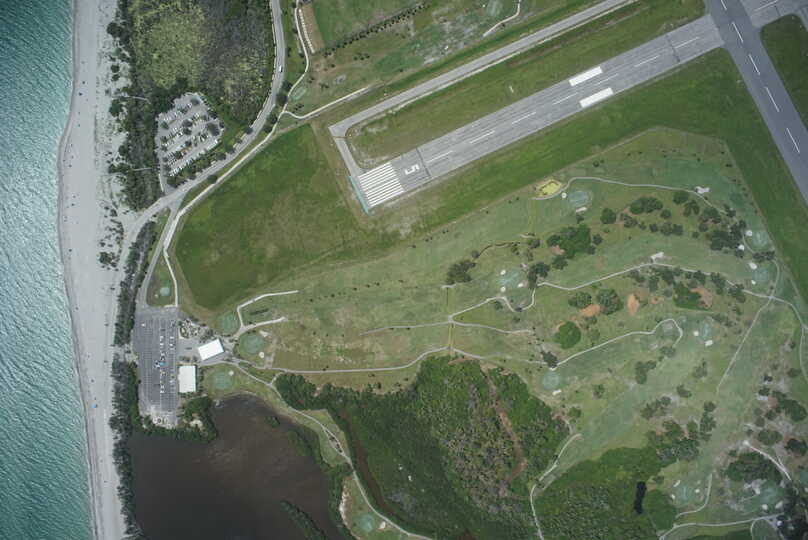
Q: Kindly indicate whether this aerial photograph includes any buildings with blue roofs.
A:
No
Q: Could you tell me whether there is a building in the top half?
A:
No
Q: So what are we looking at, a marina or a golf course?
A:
golf course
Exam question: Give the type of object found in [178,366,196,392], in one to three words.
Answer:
building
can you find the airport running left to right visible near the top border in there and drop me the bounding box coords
[329,0,808,214]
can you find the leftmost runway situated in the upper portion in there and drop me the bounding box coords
[347,15,724,214]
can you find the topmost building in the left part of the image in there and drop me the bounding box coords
[198,339,223,360]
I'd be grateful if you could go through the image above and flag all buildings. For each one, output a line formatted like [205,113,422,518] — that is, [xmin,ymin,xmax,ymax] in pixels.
[198,339,223,360]
[178,366,196,392]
